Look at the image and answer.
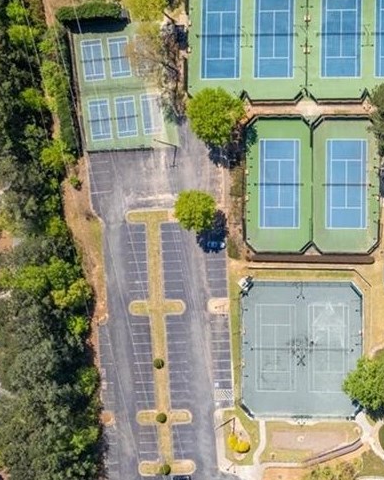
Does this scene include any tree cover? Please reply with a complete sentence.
Yes, the picture does contain tree cover.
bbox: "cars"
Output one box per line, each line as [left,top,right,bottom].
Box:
[173,474,191,480]
[208,240,226,249]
